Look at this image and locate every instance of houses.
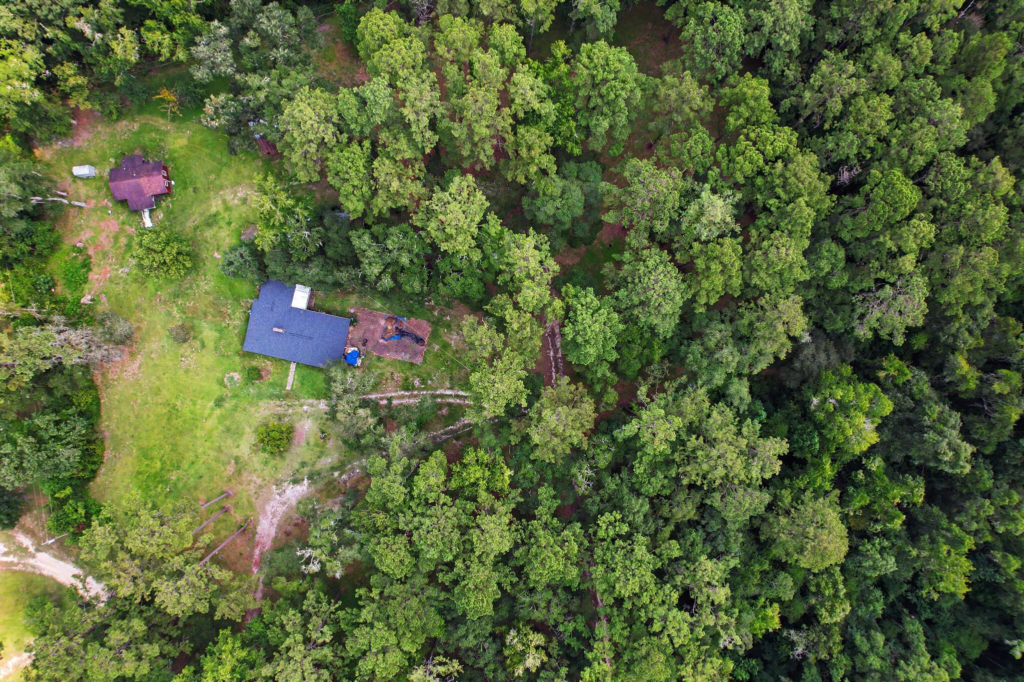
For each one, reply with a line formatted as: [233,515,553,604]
[108,153,172,212]
[243,278,351,372]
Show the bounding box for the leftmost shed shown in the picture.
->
[72,166,97,180]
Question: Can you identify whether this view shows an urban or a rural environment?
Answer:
rural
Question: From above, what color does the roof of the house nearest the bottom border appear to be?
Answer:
blue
